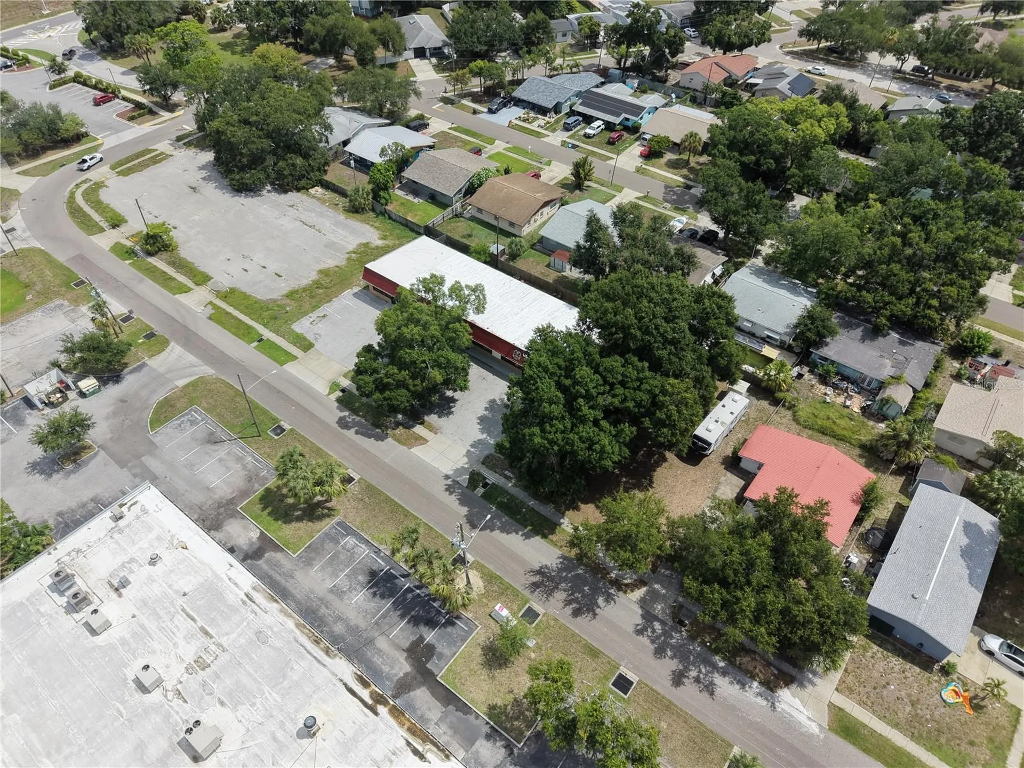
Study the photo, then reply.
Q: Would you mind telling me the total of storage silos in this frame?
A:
none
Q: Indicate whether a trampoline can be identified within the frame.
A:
Yes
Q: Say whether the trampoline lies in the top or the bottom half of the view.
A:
bottom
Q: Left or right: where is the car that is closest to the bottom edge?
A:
right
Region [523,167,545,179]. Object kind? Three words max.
vehicle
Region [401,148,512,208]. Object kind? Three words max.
house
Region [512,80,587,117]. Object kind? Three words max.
house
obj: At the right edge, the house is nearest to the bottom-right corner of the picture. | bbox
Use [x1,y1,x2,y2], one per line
[864,485,1010,661]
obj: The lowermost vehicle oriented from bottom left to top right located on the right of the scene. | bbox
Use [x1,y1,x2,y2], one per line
[691,392,749,458]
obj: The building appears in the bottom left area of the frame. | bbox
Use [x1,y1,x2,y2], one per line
[0,480,464,768]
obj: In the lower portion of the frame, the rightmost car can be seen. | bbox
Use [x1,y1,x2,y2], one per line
[983,635,1024,673]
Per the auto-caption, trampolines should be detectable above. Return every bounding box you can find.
[862,522,901,557]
